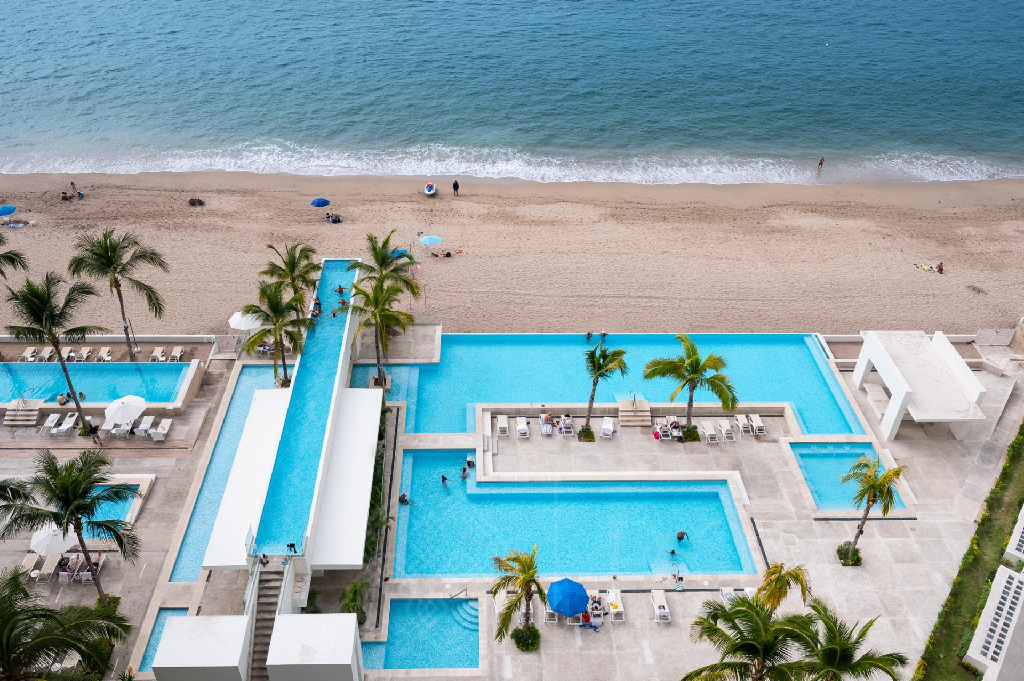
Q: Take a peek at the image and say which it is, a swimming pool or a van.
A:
swimming pool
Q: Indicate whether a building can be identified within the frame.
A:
Yes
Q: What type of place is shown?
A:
beach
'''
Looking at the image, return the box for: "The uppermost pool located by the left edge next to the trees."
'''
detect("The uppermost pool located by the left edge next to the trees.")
[0,359,203,415]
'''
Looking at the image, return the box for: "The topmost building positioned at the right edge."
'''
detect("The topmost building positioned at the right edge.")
[853,331,987,440]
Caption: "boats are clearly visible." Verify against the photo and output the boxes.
[424,181,436,197]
